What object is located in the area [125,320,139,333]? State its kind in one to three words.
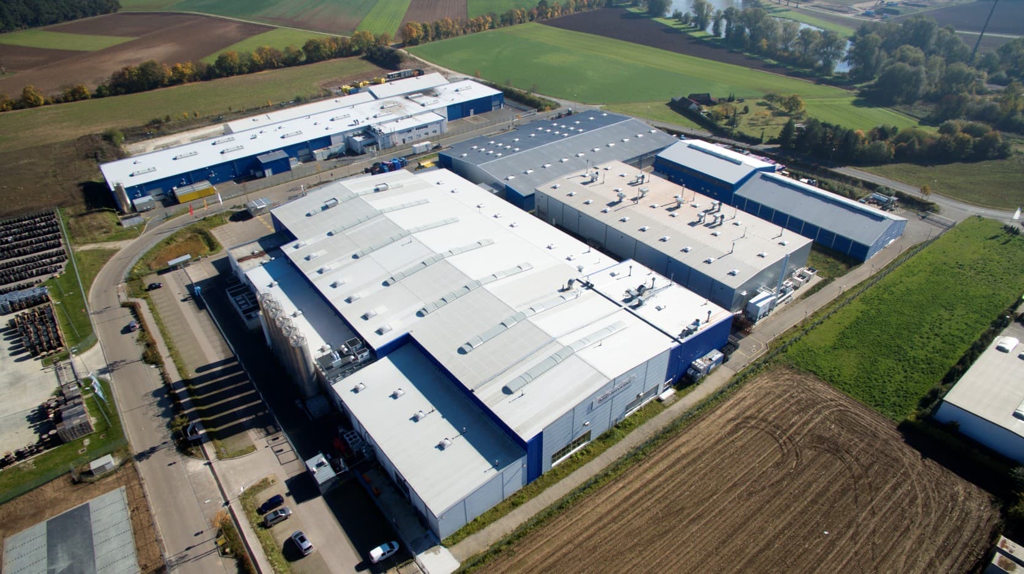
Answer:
vehicle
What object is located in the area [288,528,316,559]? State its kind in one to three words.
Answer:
car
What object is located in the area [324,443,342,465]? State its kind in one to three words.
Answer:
work vehicle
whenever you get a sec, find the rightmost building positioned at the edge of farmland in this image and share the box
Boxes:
[933,330,1024,475]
